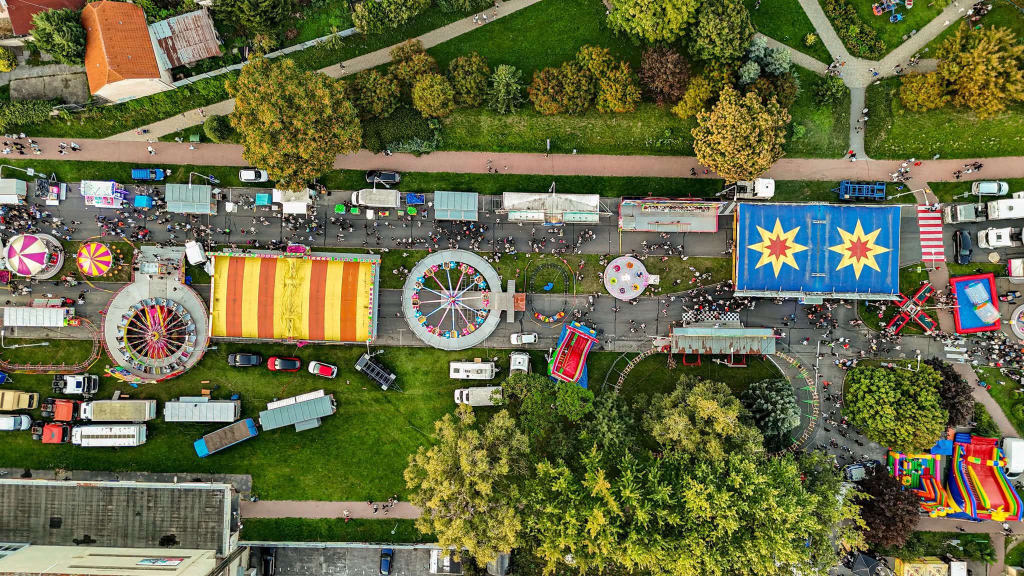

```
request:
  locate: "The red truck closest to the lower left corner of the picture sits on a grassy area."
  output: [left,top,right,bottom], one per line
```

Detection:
[31,425,74,446]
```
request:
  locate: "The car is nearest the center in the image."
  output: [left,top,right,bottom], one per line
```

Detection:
[510,332,537,345]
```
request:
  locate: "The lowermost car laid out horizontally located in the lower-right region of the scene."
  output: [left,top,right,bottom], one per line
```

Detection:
[843,461,880,481]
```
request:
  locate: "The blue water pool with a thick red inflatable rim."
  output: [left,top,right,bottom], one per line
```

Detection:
[947,271,1004,336]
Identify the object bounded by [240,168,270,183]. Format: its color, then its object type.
white car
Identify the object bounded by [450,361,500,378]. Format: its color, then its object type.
white camper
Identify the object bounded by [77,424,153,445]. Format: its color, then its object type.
white truck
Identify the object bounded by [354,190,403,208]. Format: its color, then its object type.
white vehicle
